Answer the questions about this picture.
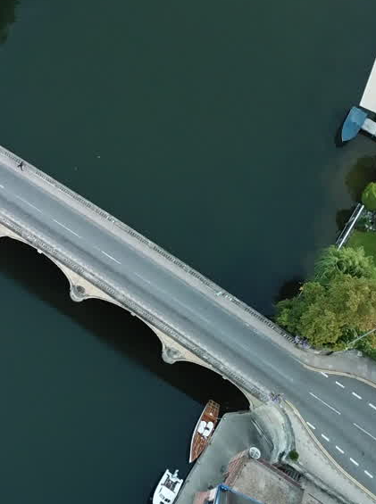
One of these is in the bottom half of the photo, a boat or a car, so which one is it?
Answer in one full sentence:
What appears in the bottom half of the photo is a boat.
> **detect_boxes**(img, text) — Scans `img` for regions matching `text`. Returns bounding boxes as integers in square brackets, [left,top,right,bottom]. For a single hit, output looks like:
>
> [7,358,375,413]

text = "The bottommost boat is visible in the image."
[153,468,185,504]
